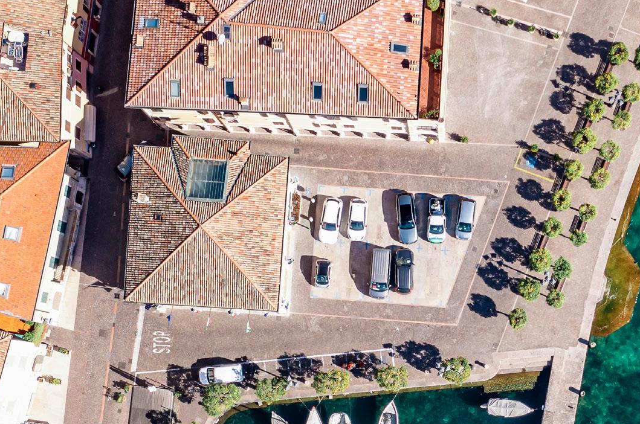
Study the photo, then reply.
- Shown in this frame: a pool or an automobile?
automobile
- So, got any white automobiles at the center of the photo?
Yes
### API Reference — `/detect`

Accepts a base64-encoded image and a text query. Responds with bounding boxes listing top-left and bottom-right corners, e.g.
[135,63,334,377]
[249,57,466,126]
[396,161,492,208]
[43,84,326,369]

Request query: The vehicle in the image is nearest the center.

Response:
[316,196,344,244]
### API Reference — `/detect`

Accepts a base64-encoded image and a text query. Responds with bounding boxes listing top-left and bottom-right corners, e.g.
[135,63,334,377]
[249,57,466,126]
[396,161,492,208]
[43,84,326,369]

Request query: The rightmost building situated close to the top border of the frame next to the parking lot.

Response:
[125,0,451,143]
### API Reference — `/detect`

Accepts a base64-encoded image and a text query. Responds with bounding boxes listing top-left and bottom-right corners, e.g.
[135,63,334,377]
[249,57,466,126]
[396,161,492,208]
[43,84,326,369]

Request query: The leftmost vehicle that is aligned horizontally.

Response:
[200,363,246,386]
